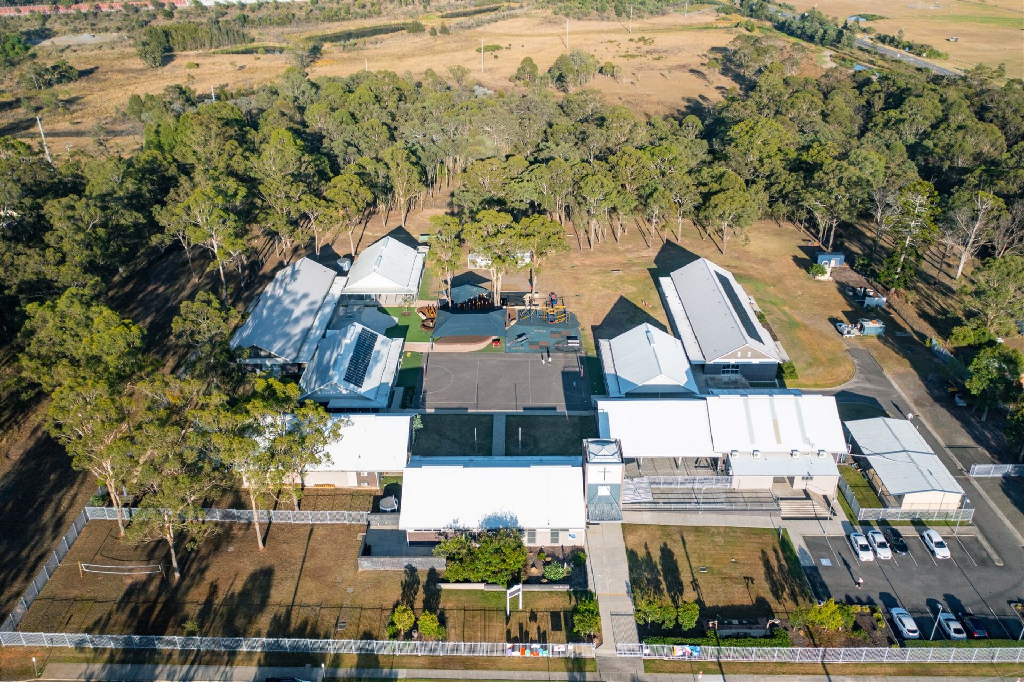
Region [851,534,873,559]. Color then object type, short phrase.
white car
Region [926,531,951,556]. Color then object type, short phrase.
white car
